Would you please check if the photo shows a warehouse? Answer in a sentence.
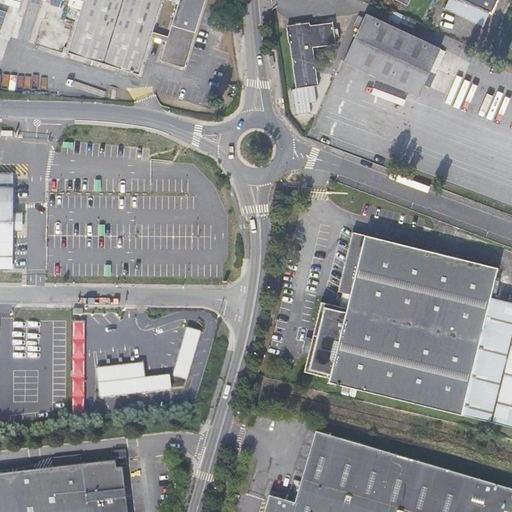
Yes, the frame does contain a warehouse.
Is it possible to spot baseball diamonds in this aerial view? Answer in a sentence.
No, there's no baseball diamond here.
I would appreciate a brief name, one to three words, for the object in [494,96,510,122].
vehicle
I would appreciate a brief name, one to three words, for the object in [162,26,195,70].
building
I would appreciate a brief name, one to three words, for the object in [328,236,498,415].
warehouse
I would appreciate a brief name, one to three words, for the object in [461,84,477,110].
vehicle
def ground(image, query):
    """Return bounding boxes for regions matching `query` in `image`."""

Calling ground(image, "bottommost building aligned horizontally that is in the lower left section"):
[0,459,129,512]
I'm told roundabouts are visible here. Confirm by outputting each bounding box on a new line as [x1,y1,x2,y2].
[218,110,296,188]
